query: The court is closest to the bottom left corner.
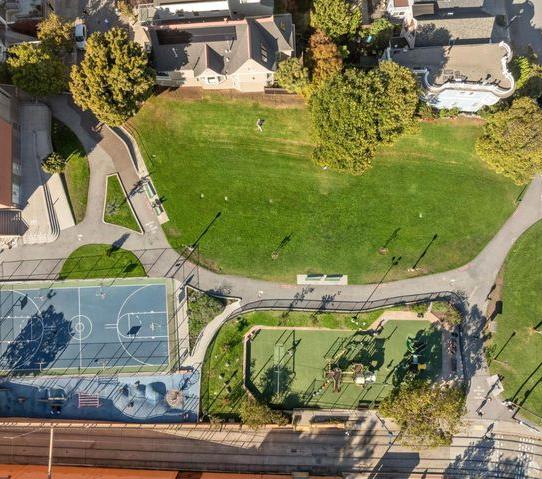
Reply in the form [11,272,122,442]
[0,276,176,375]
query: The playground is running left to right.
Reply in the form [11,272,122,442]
[243,309,462,405]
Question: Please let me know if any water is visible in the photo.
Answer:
No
